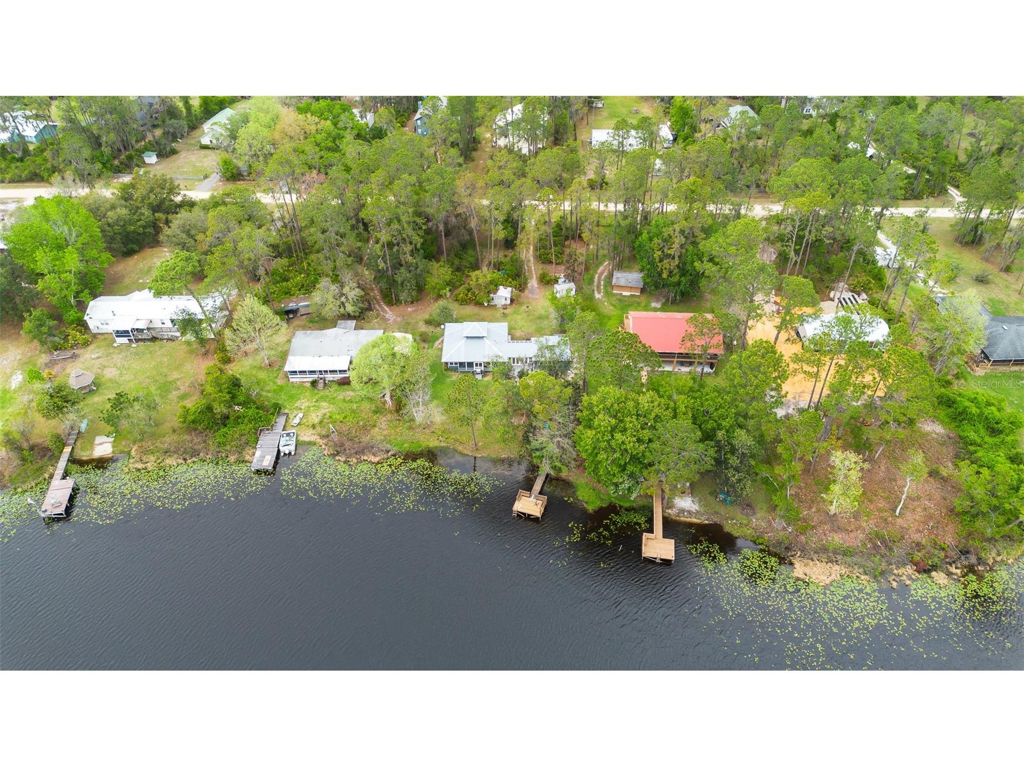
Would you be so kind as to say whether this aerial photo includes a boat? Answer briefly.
Yes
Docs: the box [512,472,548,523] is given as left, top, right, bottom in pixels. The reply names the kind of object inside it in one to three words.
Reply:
pier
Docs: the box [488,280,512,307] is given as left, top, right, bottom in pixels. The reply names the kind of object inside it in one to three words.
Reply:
shed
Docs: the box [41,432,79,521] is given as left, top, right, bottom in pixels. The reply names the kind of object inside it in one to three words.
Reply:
pier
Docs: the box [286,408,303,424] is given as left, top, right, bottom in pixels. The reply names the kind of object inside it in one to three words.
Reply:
boat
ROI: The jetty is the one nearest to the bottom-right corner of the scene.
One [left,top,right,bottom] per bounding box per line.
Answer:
[642,481,675,566]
